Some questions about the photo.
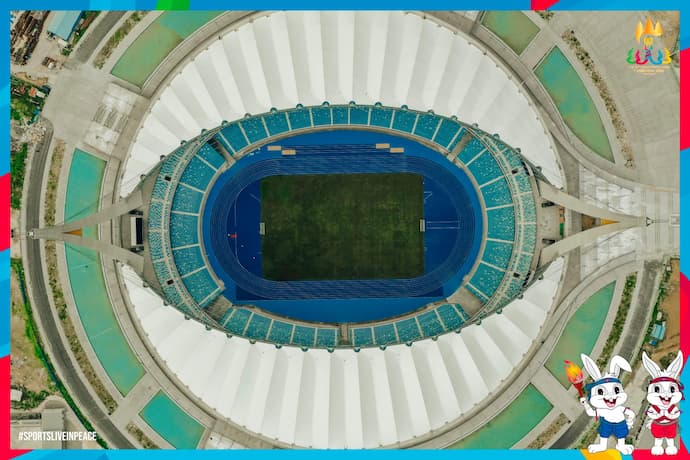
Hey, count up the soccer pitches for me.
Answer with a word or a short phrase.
1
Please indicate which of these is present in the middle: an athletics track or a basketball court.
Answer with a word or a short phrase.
athletics track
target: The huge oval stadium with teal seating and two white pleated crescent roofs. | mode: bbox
[113,0,569,455]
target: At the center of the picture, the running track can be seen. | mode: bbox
[203,129,481,321]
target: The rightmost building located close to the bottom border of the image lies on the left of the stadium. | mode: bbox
[41,406,69,460]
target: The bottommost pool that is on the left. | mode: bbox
[136,389,205,460]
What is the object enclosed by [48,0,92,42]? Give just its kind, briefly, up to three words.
building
